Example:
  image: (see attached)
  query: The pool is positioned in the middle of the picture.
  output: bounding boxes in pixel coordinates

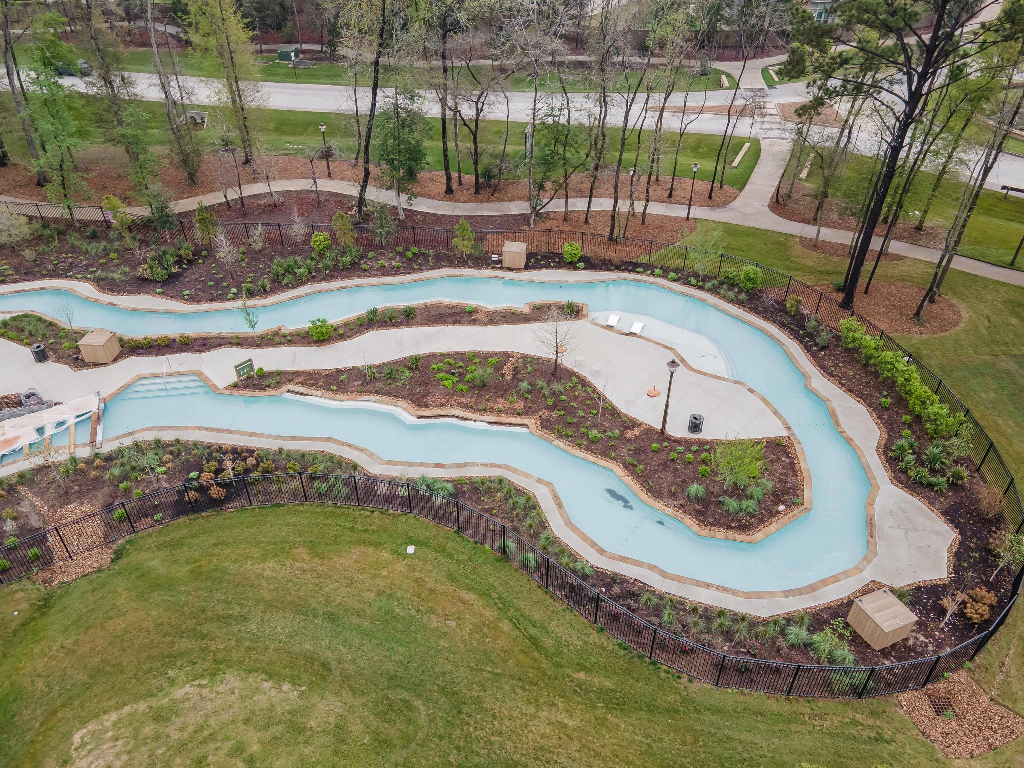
[0,274,881,599]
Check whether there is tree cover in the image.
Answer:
Yes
